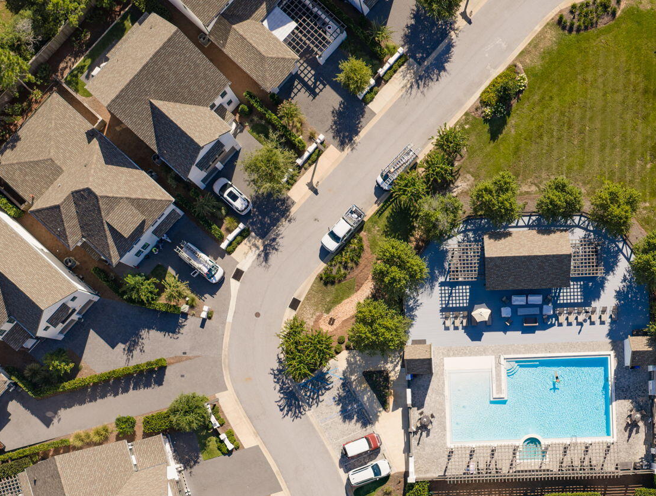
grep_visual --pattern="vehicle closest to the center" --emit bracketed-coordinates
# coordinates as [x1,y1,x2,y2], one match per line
[320,200,369,252]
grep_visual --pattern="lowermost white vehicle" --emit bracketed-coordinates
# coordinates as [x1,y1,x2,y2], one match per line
[347,460,392,486]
